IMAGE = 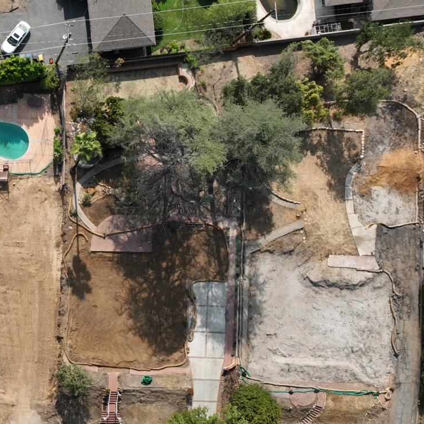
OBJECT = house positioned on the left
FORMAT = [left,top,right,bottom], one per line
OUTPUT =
[89,0,156,53]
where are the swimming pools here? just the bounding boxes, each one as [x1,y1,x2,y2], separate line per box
[0,119,31,161]
[254,0,300,22]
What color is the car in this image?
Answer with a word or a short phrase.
white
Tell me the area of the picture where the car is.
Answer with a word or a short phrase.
top left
